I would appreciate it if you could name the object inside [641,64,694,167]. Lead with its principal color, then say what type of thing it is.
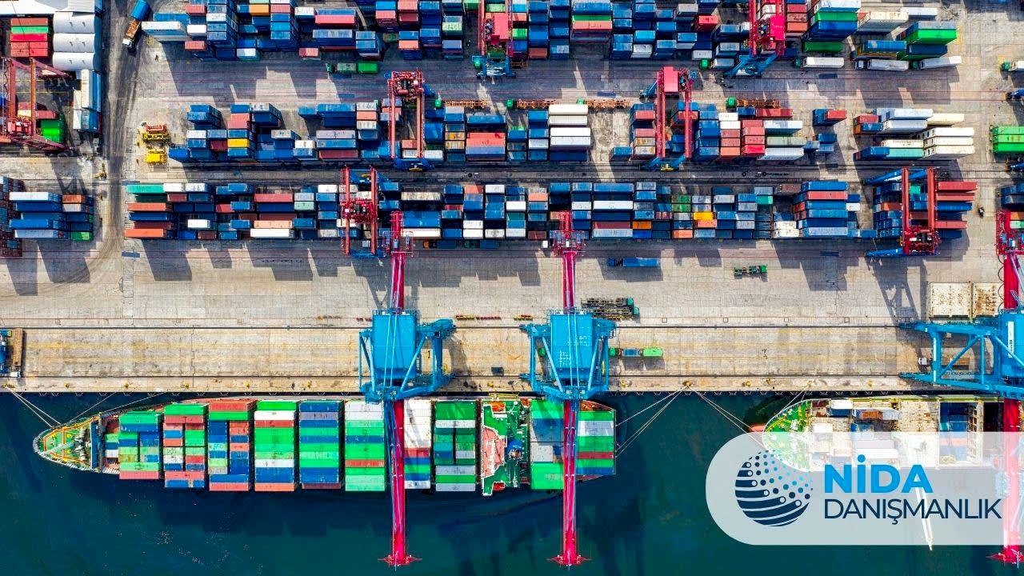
red container crane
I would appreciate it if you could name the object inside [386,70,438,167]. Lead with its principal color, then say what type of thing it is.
red container crane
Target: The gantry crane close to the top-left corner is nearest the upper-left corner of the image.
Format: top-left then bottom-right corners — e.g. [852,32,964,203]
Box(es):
[4,56,77,148]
